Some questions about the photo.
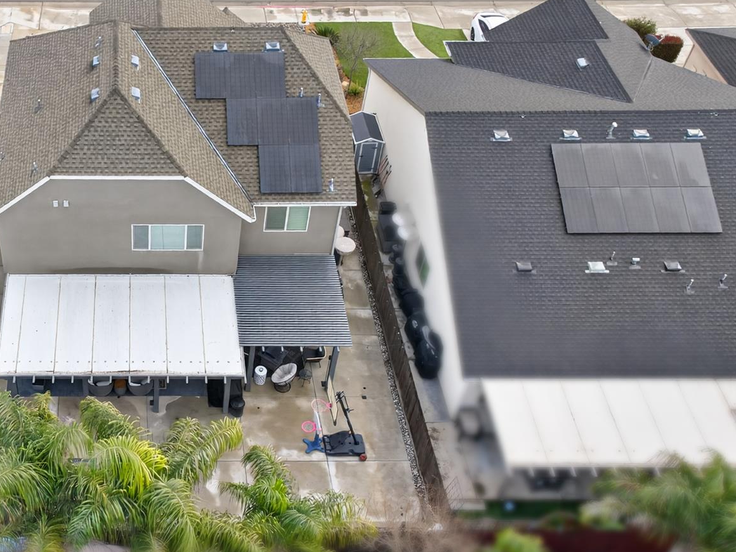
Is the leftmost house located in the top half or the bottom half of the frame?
top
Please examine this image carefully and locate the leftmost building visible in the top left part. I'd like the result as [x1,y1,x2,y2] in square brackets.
[0,0,357,279]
